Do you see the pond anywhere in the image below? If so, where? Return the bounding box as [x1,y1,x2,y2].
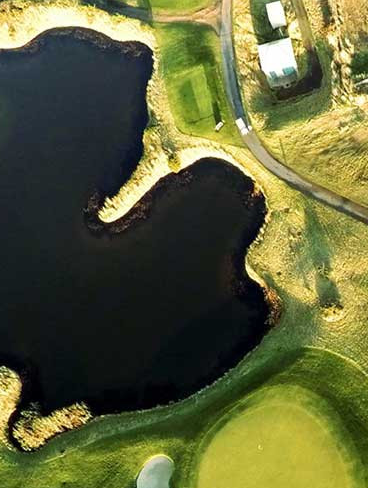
[0,26,273,452]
